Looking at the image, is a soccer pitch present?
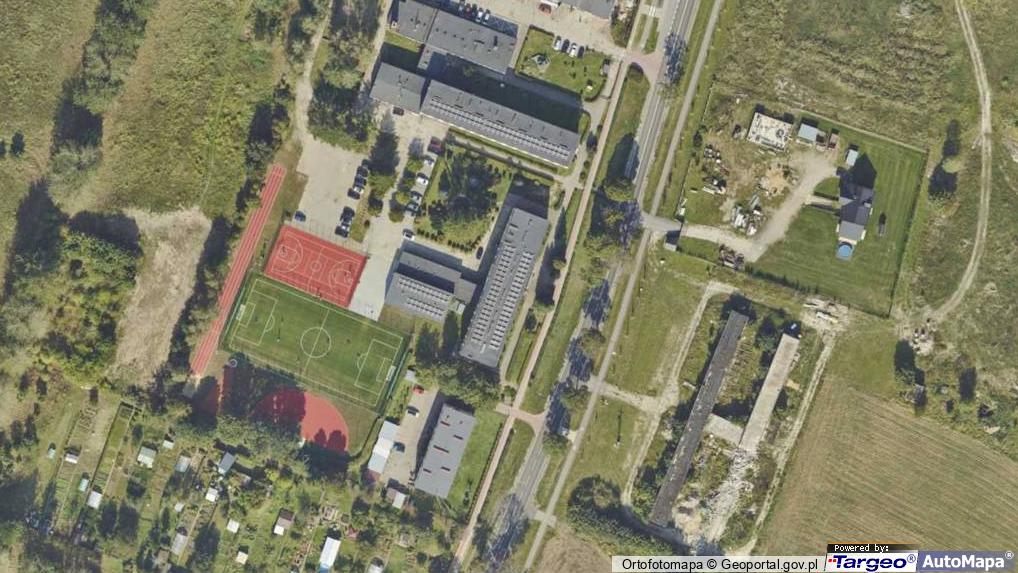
Yes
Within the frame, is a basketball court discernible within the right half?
No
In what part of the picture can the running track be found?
left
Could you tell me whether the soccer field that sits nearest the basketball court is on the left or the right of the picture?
left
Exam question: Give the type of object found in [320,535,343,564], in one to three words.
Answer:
shed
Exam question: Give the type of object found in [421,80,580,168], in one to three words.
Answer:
building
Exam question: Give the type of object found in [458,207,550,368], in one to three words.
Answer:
building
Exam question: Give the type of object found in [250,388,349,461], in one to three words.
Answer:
sports field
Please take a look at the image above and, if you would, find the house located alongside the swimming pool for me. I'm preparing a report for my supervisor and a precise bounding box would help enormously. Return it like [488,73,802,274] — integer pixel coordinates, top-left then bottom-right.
[836,183,876,247]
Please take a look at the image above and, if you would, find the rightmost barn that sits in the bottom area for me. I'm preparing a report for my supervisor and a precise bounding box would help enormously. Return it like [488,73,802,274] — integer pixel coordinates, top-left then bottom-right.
[739,333,800,453]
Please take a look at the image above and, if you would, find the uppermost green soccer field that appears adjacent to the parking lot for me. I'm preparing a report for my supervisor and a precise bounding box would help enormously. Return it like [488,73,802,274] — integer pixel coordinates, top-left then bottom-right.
[219,273,411,414]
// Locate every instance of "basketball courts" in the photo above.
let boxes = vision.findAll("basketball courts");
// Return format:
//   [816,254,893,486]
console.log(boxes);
[264,226,366,307]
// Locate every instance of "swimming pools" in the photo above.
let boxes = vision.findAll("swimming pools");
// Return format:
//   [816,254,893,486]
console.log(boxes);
[836,243,853,261]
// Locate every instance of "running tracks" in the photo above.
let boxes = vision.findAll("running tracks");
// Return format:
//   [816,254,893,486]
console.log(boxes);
[192,164,287,377]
